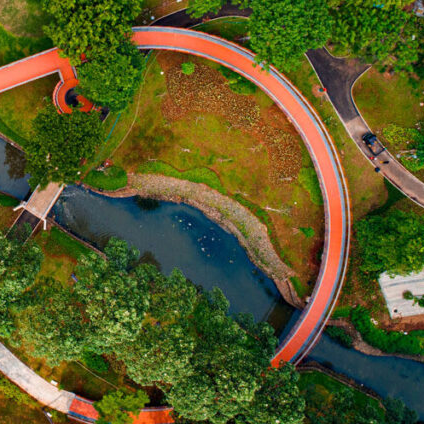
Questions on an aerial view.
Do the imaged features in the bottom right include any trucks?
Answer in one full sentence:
No, I see no truck in the bottom right.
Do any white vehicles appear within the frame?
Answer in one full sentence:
No, no white vehicle is visible in the scene.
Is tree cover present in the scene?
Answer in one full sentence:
Yes, there is tree cover in the image.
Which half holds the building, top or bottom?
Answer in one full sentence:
Seen from above, the building lies in the bottom half of the view.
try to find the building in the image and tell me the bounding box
[380,269,424,319]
